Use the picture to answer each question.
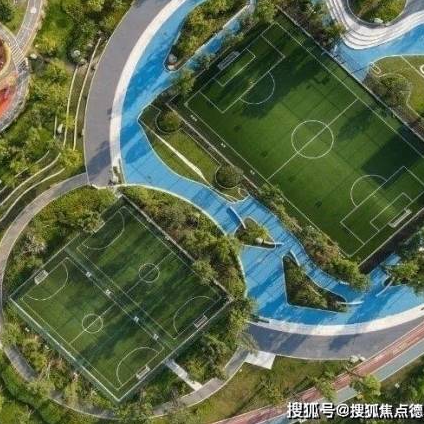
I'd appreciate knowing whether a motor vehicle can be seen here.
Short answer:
No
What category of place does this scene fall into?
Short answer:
sports ground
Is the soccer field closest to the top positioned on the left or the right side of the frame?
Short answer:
right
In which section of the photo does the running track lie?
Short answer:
bottom right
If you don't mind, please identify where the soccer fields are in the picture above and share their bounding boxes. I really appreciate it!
[11,244,178,399]
[168,5,424,269]
[71,195,230,347]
